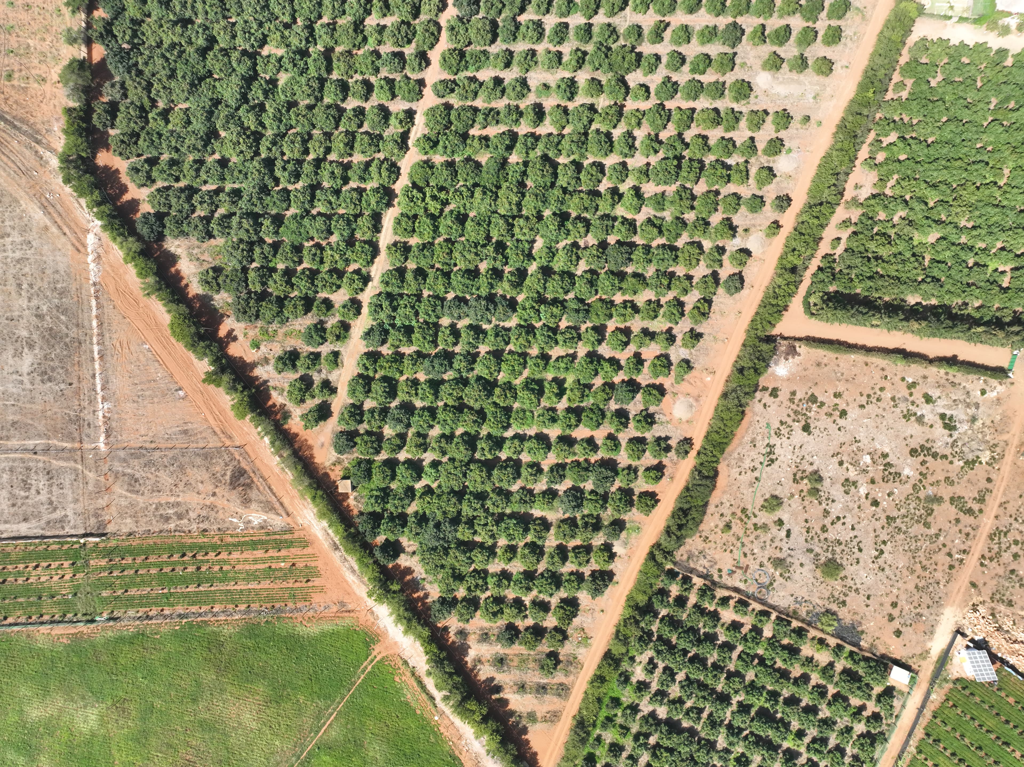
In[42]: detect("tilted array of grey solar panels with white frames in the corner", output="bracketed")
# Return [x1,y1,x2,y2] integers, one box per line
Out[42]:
[966,645,997,682]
